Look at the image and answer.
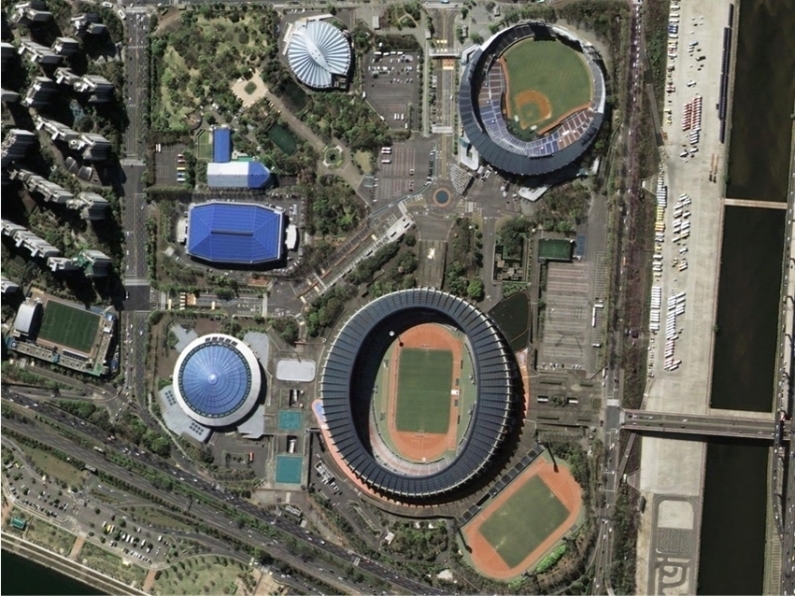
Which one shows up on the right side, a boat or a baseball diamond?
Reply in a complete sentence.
You can see a baseball diamond on the right side.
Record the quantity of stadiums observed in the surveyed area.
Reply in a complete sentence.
My tally gives 2 stadiums in this view.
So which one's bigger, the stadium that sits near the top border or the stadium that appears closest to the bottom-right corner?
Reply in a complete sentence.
Compared with the stadium that sits near the top border, the stadium that appears closest to the bottom-right corner is the larger one.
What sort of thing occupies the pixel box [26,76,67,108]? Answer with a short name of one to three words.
building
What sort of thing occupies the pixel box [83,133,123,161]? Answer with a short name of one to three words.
building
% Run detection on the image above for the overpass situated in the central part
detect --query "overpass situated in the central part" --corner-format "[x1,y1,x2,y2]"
[319,219,415,296]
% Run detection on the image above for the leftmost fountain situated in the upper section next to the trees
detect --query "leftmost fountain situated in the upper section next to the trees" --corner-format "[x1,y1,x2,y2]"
[321,145,342,168]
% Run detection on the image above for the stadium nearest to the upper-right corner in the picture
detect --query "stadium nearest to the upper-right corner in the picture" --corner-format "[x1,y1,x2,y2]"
[460,19,606,175]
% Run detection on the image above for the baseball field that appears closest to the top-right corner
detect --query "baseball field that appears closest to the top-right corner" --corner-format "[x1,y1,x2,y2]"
[501,37,593,143]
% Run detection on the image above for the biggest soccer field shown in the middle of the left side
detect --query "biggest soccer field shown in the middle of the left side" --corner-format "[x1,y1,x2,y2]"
[30,290,106,363]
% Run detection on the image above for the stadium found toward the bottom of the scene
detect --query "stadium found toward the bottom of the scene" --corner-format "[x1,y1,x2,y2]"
[319,283,521,503]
